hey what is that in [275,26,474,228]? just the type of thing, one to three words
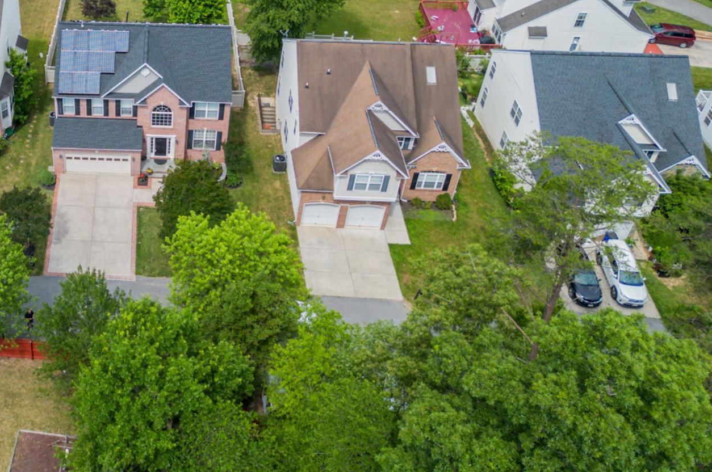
house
